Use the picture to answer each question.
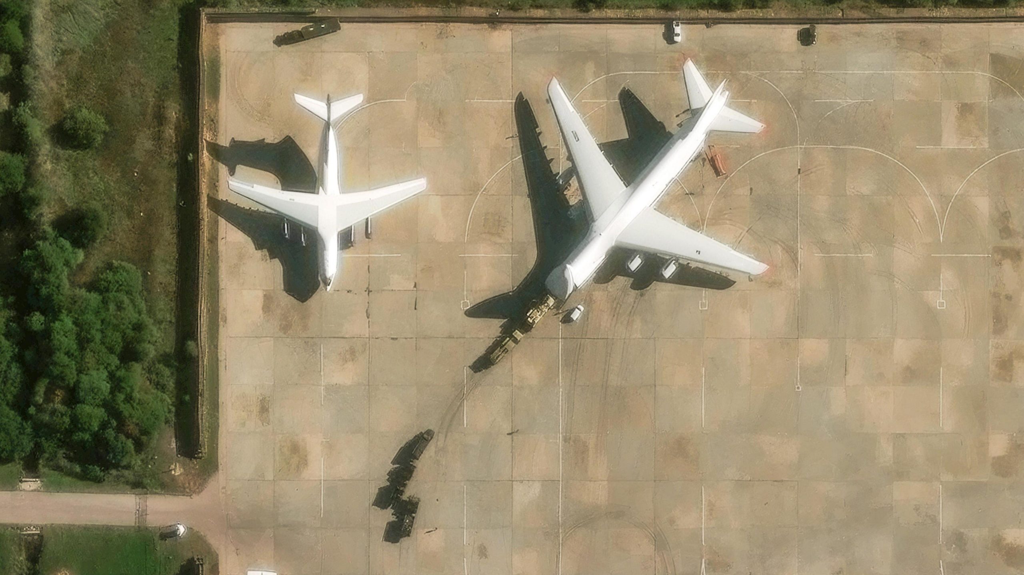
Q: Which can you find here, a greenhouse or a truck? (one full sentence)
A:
There is a truck in the scene.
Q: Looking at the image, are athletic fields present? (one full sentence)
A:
No, there appears to be no athletic field in this shot.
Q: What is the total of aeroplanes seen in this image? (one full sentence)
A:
Altogether the scene contains 2 aeroplanes.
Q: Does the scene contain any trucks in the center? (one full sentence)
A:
Yes, a truck appears in the center.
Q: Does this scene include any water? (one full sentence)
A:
No, water can't be seen anywhere here.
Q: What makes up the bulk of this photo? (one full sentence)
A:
Most of the picture is covered by paved ground.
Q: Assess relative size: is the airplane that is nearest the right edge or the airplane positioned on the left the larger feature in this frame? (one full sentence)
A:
Of the two, the airplane that is nearest the right edge is larger and the airplane positioned on the left is the smaller one.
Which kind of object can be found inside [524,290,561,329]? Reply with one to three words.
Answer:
truck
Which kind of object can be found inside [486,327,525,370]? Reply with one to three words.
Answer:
truck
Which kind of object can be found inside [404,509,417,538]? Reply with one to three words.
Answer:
vehicle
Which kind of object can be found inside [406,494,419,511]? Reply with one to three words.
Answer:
vehicle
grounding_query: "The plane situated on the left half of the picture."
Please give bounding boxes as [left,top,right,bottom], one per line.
[230,92,427,290]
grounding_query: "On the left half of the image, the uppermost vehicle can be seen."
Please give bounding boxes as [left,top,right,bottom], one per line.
[276,19,340,46]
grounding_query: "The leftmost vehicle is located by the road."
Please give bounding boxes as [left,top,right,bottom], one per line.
[157,526,186,542]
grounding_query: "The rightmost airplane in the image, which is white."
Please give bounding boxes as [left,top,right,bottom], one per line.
[544,59,768,307]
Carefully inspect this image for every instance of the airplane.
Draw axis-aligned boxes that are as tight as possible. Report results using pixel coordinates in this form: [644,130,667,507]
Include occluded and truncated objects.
[230,92,427,290]
[544,59,768,307]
